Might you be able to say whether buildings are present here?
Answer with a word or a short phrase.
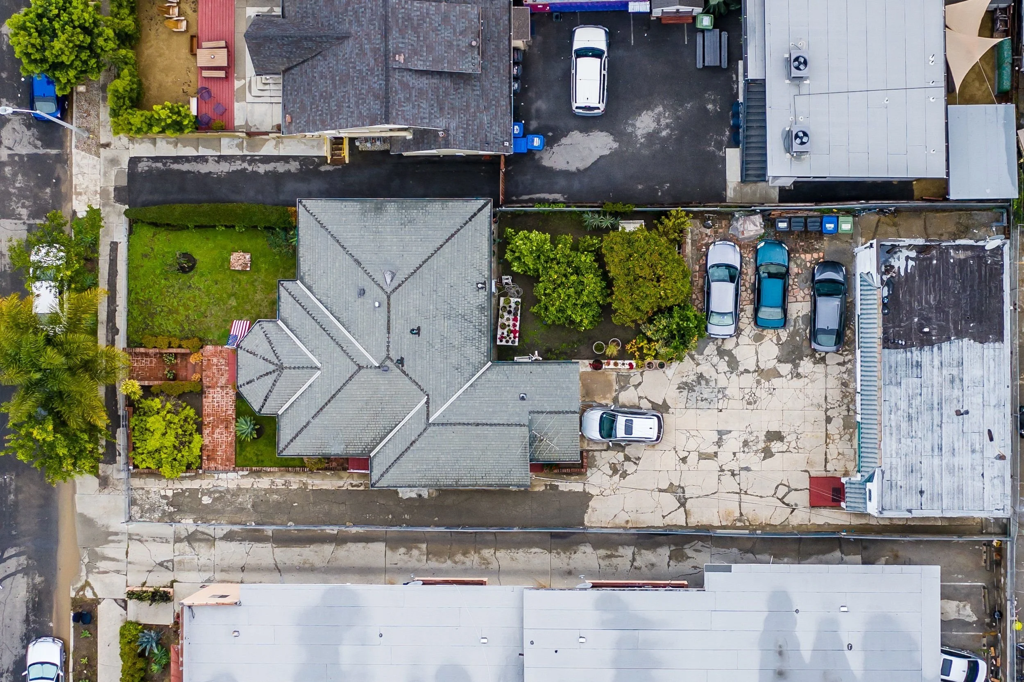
Yes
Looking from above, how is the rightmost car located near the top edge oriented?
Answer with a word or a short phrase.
from top to bottom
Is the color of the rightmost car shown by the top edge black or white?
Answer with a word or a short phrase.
white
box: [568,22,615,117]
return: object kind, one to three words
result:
car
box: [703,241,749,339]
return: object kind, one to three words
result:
car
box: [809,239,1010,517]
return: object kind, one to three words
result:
shed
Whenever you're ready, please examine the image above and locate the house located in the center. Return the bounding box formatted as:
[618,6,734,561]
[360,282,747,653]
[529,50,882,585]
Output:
[228,196,581,491]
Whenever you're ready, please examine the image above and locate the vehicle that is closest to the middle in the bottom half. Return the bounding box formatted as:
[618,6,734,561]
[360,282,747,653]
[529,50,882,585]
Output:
[582,404,665,450]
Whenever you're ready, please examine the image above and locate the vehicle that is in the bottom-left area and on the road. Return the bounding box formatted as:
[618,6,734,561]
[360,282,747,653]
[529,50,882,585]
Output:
[15,635,62,682]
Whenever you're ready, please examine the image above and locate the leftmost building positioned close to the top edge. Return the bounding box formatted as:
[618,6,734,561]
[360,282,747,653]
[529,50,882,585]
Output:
[243,0,515,156]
